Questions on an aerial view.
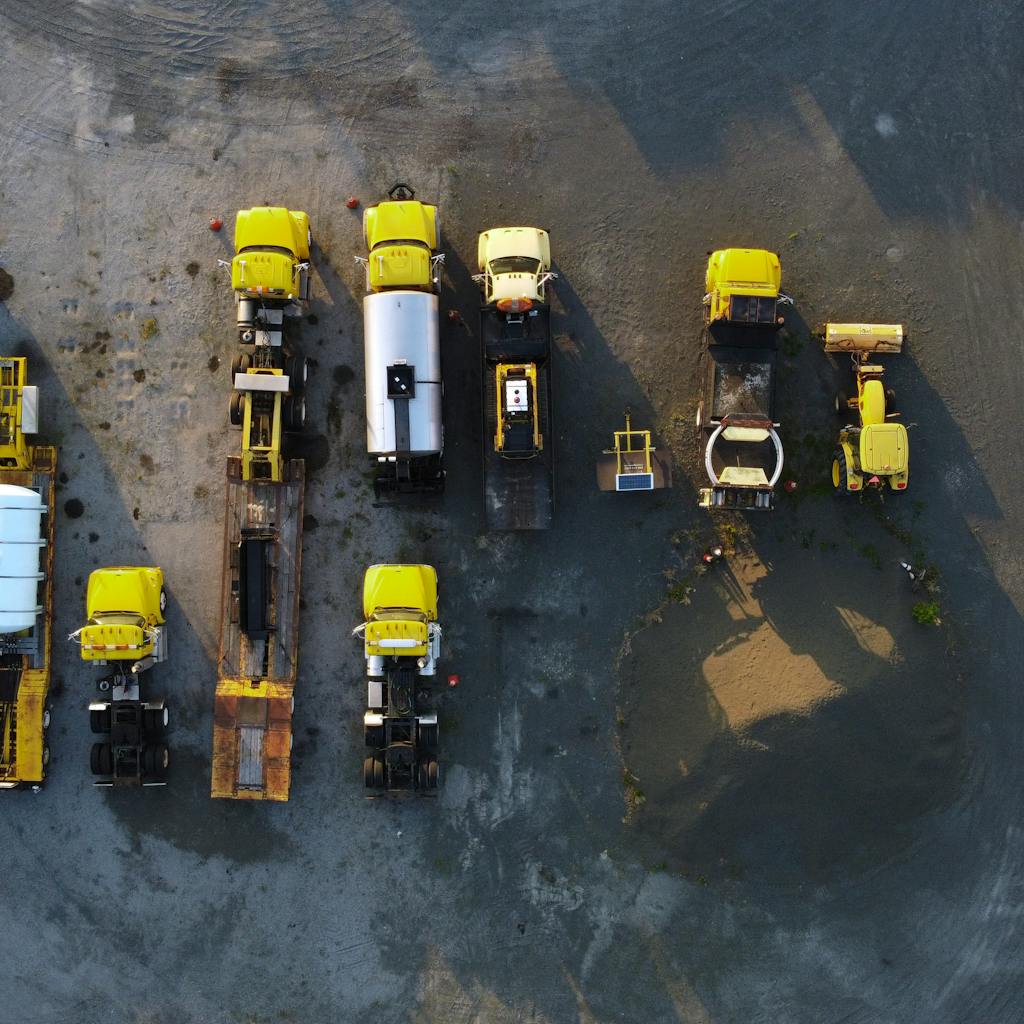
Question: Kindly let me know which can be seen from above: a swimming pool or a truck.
truck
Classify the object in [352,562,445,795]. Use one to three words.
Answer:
truck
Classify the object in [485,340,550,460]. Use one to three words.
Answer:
work vehicle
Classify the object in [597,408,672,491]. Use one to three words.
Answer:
trailer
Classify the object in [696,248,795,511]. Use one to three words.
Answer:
truck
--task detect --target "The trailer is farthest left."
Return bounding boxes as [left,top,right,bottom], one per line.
[0,356,60,789]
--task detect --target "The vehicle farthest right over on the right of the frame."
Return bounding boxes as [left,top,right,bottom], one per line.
[820,326,919,497]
